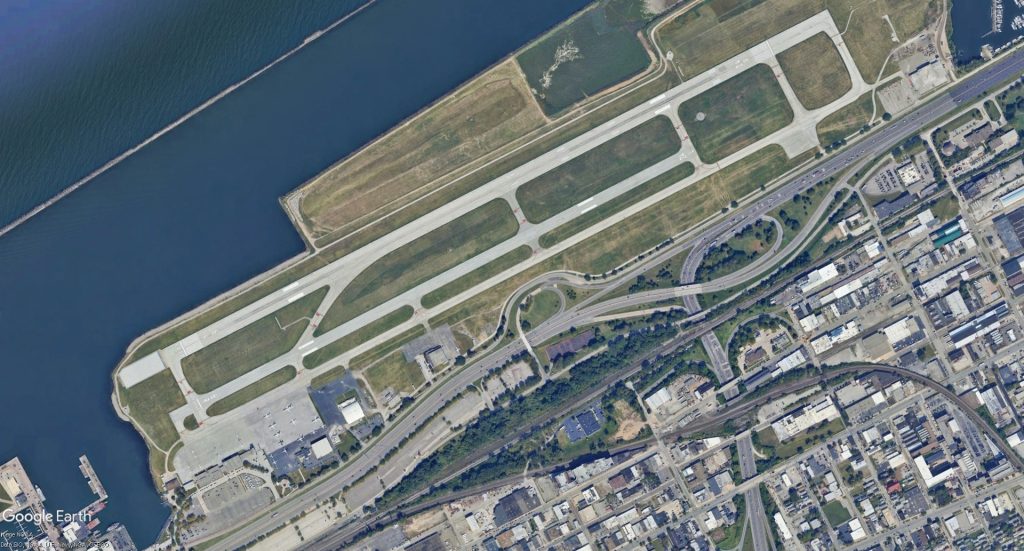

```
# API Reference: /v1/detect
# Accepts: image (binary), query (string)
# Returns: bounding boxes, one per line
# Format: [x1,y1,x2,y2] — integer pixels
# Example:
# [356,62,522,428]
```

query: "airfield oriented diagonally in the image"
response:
[118,10,902,483]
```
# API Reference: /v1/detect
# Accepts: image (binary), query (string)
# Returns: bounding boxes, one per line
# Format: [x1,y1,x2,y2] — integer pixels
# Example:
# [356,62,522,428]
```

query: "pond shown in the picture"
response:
[517,0,681,116]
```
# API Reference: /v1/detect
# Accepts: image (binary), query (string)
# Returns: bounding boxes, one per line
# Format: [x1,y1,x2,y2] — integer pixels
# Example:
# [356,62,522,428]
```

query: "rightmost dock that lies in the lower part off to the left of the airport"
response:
[75,455,108,517]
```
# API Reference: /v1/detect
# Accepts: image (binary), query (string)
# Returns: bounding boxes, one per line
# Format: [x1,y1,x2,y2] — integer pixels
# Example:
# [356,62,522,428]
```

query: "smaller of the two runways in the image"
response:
[196,149,690,409]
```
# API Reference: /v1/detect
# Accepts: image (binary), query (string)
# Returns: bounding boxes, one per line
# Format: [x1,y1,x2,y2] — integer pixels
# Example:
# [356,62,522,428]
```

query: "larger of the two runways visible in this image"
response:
[159,10,836,365]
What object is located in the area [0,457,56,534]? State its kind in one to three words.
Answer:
pier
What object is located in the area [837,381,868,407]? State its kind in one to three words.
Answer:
building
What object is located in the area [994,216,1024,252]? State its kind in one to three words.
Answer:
building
